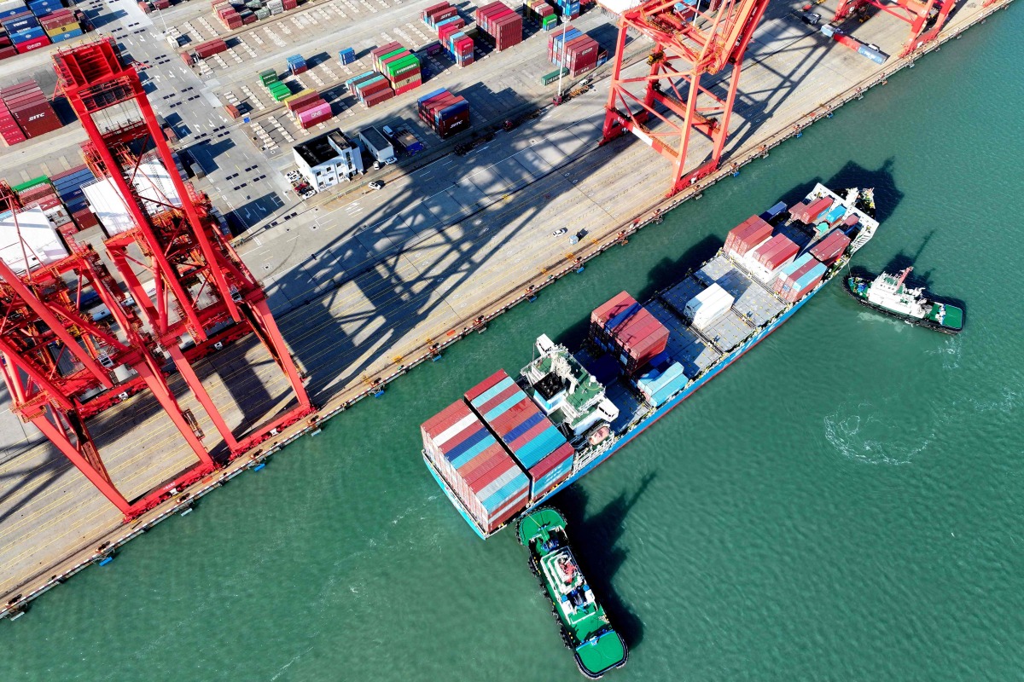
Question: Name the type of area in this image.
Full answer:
This image shows a port.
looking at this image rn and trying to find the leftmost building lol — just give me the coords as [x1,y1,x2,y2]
[293,129,364,191]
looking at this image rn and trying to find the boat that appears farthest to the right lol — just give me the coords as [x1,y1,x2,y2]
[842,259,968,337]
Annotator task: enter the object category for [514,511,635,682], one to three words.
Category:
boat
